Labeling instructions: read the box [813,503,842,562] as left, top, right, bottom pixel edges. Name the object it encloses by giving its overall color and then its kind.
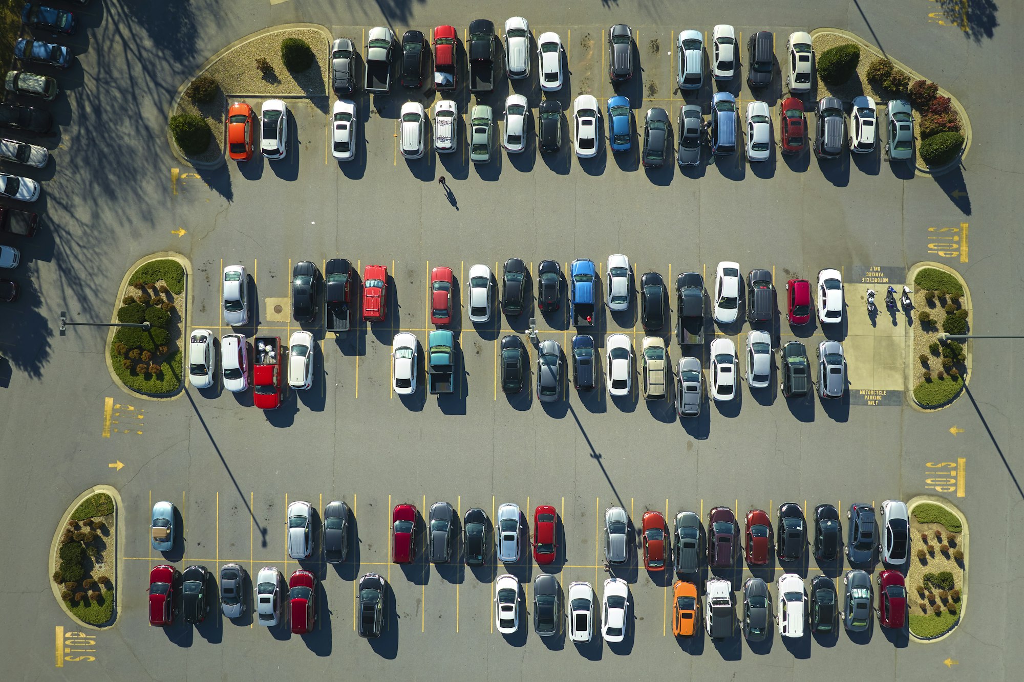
black car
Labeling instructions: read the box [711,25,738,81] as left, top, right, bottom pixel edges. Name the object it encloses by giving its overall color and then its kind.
white car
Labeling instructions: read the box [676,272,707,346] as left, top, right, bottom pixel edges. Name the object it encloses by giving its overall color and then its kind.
black truck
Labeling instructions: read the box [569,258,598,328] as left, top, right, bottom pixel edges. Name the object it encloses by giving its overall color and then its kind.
blue truck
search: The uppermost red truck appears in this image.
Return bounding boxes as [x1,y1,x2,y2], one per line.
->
[430,24,459,94]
